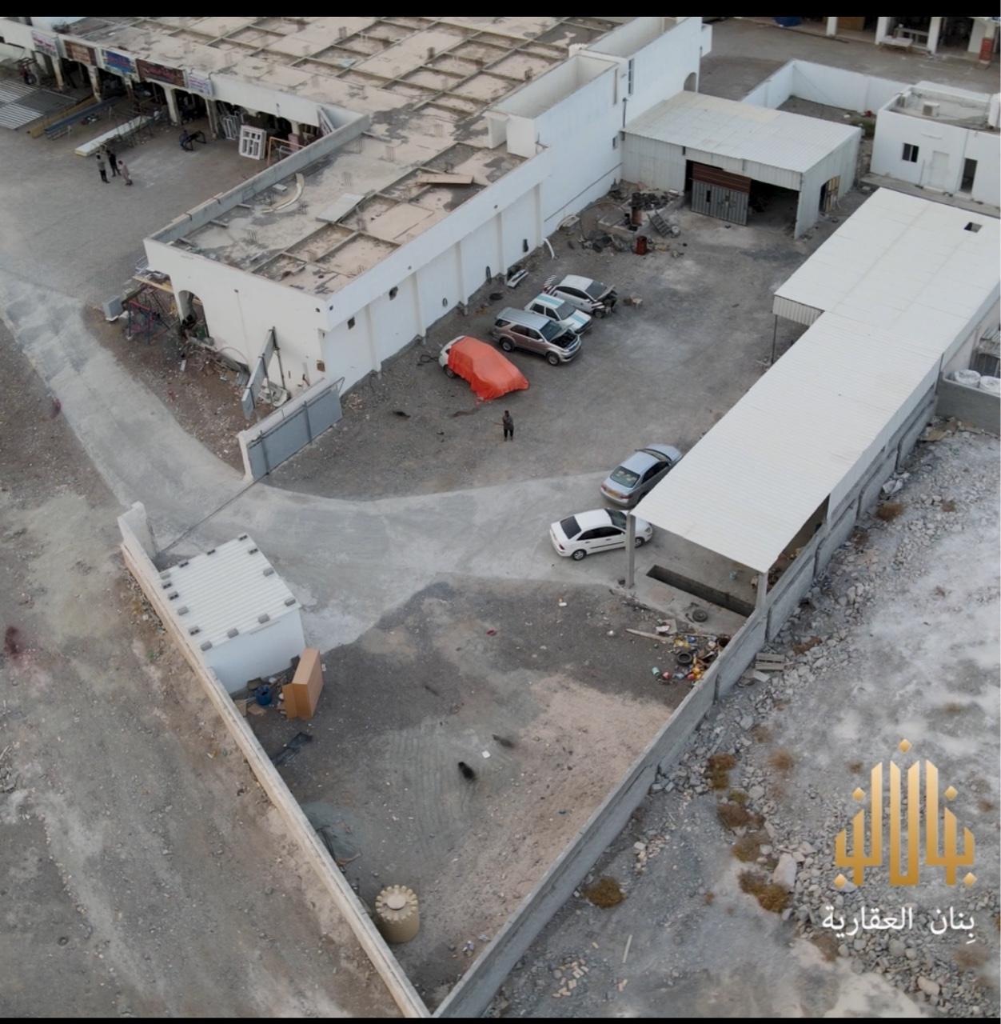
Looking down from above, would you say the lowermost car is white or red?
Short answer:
white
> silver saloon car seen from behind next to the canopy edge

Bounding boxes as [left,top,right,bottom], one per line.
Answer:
[602,447,683,509]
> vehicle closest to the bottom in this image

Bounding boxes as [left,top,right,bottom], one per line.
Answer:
[553,508,657,560]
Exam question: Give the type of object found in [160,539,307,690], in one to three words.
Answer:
shed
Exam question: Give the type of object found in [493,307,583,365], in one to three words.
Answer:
car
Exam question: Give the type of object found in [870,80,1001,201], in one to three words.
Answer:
house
